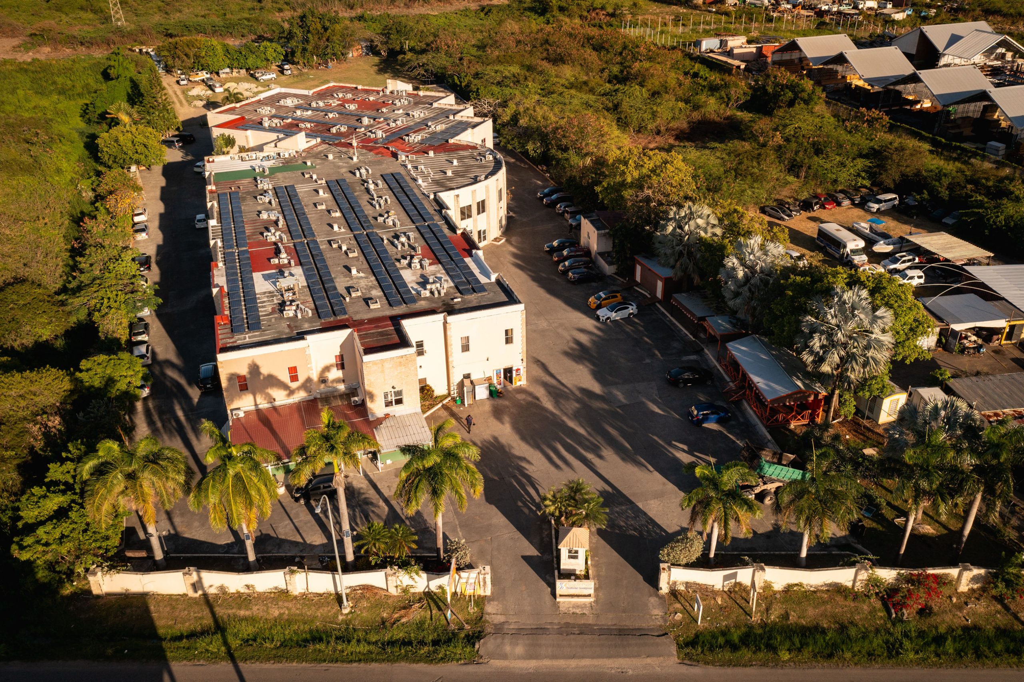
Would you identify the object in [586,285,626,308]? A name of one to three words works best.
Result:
car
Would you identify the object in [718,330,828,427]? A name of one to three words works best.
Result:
building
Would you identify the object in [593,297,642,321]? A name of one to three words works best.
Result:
car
